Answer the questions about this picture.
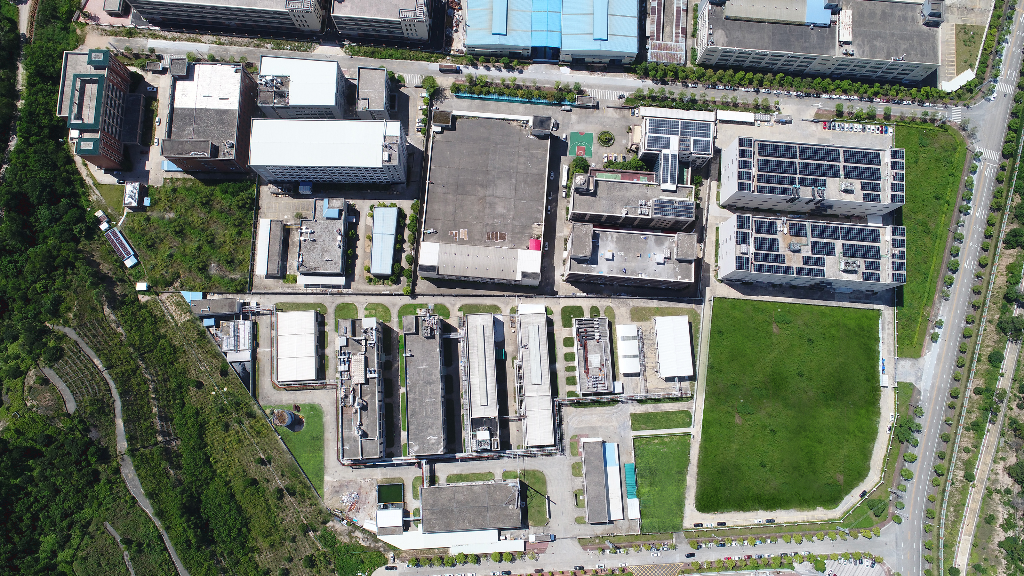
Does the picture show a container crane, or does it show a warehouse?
warehouse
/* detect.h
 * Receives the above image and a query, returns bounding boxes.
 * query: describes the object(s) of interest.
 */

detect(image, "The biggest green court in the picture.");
[569,132,594,157]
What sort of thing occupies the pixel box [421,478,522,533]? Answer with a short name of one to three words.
building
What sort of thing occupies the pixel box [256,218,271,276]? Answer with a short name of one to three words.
shed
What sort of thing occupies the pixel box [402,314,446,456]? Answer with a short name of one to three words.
building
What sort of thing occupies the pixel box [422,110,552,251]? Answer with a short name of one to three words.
warehouse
